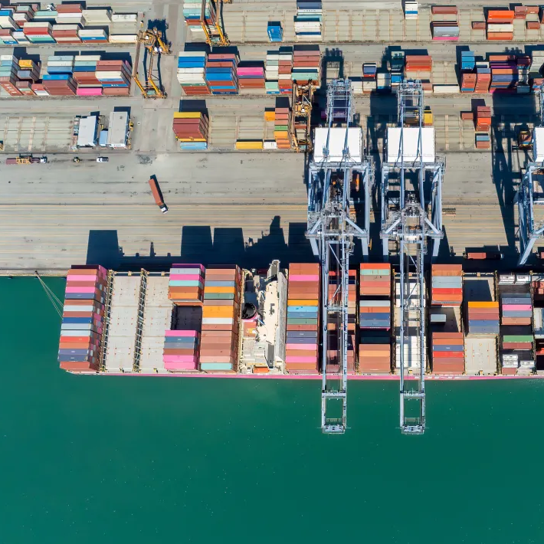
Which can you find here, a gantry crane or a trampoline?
gantry crane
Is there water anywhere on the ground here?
Yes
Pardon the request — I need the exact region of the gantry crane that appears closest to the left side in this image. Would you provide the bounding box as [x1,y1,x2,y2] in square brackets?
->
[128,25,168,101]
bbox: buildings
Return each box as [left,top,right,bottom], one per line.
[105,107,132,145]
[75,111,102,147]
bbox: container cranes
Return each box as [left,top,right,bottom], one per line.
[377,75,446,435]
[201,0,235,47]
[506,74,544,270]
[308,75,377,434]
[285,79,316,156]
[128,25,168,101]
